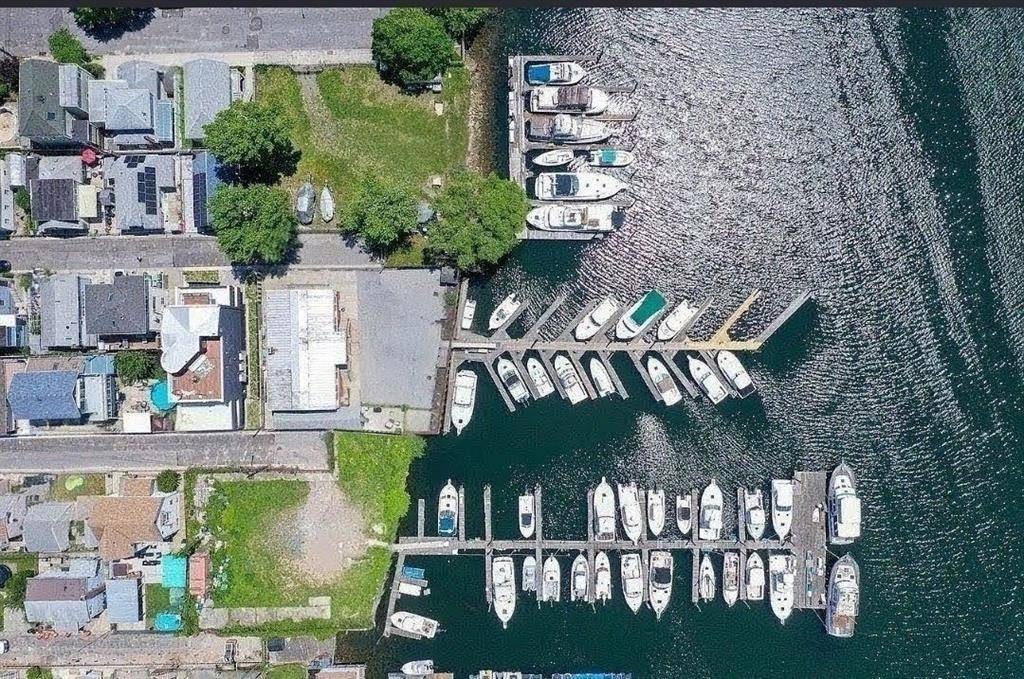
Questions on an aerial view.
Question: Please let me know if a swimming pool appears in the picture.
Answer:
Yes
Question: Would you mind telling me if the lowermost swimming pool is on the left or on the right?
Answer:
left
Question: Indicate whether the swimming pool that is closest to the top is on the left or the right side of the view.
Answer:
left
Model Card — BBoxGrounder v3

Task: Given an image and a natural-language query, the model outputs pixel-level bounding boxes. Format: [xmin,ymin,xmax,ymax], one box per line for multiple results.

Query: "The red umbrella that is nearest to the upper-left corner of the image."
[84,149,99,163]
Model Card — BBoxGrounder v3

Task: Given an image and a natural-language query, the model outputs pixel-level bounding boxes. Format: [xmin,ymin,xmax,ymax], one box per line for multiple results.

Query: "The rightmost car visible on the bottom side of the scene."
[268,638,287,650]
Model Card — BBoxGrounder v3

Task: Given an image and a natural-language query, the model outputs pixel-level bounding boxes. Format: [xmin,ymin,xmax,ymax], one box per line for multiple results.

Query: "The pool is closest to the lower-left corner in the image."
[155,611,183,631]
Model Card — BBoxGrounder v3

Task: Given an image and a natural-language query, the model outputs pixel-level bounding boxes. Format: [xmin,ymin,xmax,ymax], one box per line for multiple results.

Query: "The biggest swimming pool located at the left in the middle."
[148,382,175,410]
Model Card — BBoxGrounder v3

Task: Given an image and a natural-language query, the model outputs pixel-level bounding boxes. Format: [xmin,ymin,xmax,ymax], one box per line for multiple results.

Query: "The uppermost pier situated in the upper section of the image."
[509,51,641,239]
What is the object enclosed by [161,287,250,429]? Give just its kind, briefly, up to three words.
building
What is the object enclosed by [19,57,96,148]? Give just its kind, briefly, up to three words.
house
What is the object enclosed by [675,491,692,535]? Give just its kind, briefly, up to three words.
boat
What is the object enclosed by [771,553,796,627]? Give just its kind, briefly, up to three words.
boat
